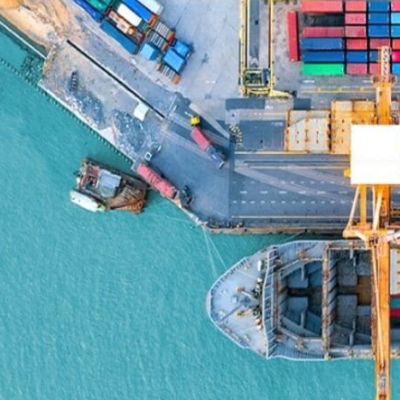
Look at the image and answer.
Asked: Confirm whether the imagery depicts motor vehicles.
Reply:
Yes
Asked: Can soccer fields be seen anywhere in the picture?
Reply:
No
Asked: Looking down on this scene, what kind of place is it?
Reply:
port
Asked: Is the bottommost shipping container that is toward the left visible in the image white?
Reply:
No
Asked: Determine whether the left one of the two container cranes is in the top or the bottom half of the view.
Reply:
top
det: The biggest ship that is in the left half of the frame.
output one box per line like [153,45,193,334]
[72,156,149,215]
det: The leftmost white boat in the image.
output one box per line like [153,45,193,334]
[68,189,104,210]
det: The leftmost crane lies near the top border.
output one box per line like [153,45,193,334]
[241,0,299,94]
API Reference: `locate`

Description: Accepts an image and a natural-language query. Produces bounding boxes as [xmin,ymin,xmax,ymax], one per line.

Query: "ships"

[72,156,149,215]
[205,238,372,362]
